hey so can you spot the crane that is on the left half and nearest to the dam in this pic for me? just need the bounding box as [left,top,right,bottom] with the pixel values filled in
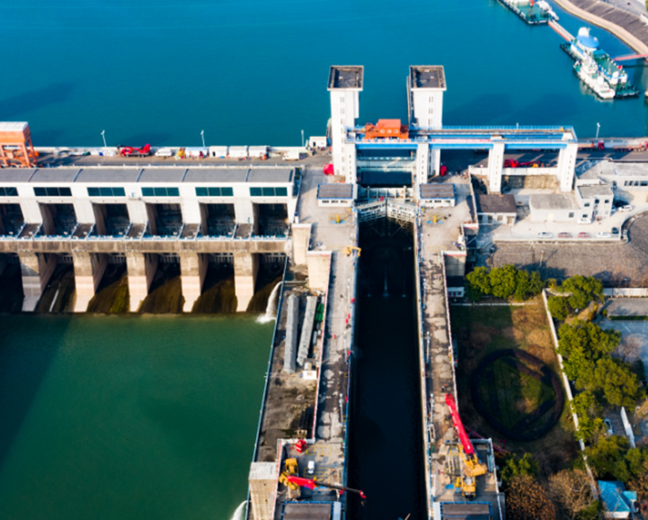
[0,119,43,167]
